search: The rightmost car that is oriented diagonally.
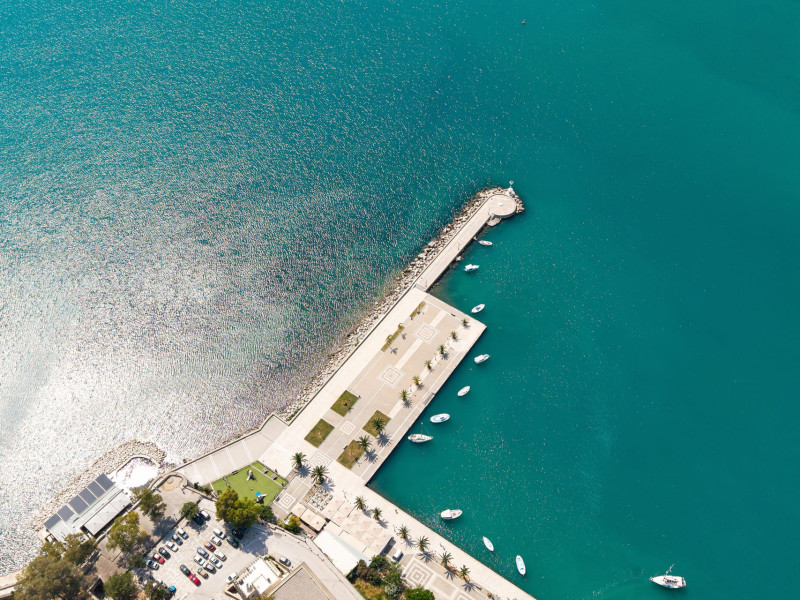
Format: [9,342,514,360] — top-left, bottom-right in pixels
[390,546,405,562]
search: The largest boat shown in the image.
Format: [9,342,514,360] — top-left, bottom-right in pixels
[649,570,688,588]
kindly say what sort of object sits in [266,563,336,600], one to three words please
building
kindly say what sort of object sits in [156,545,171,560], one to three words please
car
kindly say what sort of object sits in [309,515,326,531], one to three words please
umbrella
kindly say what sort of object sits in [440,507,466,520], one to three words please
boat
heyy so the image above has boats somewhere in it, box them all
[440,507,466,520]
[464,262,480,271]
[649,570,688,588]
[408,425,433,441]
[471,303,486,312]
[473,352,493,362]
[483,536,495,552]
[430,412,454,421]
[512,548,527,577]
[457,385,472,395]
